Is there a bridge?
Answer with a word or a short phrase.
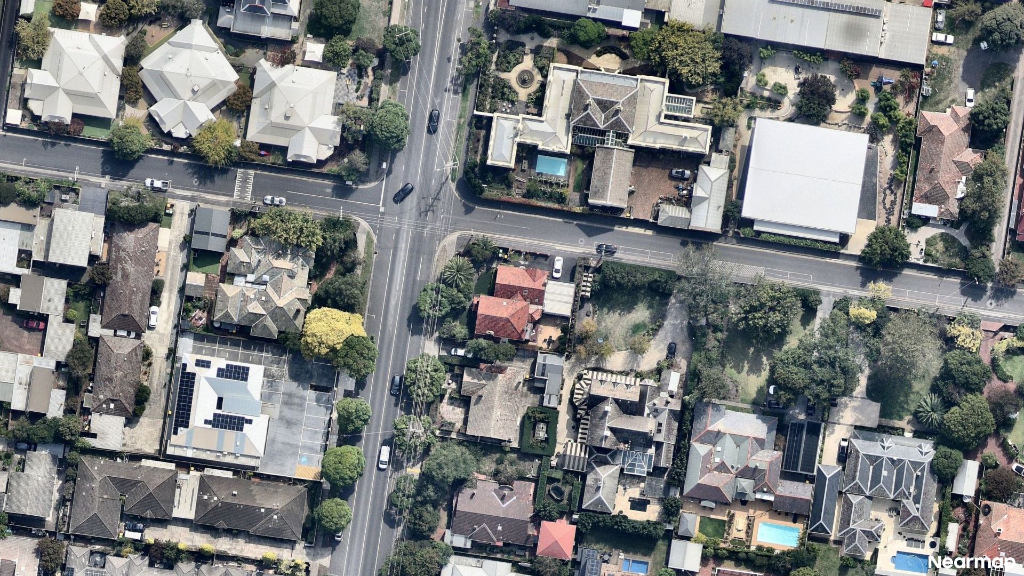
No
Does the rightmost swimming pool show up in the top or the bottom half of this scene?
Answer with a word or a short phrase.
bottom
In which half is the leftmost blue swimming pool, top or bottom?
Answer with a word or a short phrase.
top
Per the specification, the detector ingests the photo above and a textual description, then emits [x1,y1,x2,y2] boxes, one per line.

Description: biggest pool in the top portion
[533,154,569,177]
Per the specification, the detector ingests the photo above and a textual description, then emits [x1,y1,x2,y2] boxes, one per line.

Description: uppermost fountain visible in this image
[516,69,535,88]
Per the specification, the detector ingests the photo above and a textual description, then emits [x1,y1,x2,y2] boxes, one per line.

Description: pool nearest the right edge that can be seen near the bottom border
[890,550,931,575]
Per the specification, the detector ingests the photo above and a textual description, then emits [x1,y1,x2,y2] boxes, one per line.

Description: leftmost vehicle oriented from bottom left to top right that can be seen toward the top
[393,182,414,203]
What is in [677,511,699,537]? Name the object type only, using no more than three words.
gazebo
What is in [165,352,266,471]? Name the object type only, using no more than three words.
building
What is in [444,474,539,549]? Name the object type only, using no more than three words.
house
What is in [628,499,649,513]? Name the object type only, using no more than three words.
swimming pool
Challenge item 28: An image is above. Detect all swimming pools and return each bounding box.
[533,154,569,177]
[755,522,802,548]
[890,550,931,575]
[621,558,651,576]
[628,499,649,513]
